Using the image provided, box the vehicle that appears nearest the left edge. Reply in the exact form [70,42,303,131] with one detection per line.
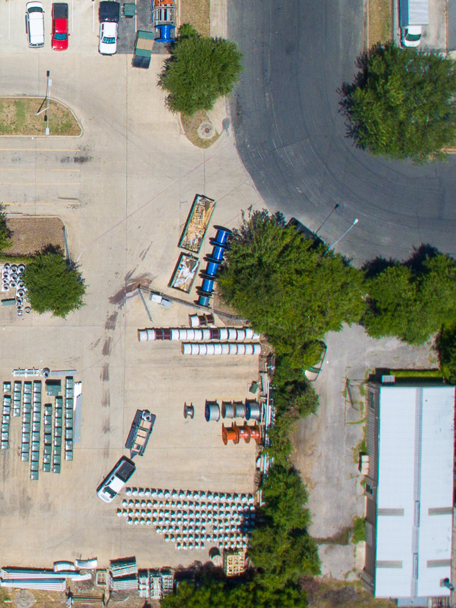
[25,2,45,50]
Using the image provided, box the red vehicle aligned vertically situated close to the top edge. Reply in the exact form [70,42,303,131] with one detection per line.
[50,2,70,52]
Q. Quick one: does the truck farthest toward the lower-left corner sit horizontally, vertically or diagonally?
diagonally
